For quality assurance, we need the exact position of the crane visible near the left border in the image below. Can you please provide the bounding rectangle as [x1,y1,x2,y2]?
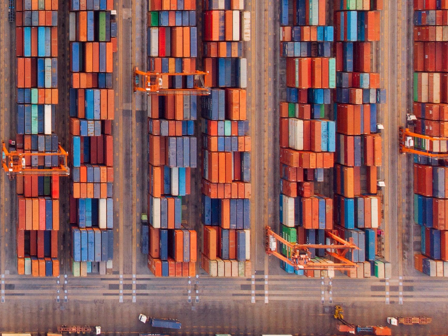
[1,141,71,174]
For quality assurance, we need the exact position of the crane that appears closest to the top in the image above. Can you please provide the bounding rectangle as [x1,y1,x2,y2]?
[133,66,211,95]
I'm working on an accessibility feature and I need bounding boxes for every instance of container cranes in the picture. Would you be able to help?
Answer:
[133,66,211,95]
[1,141,71,174]
[264,226,353,270]
[399,126,448,160]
